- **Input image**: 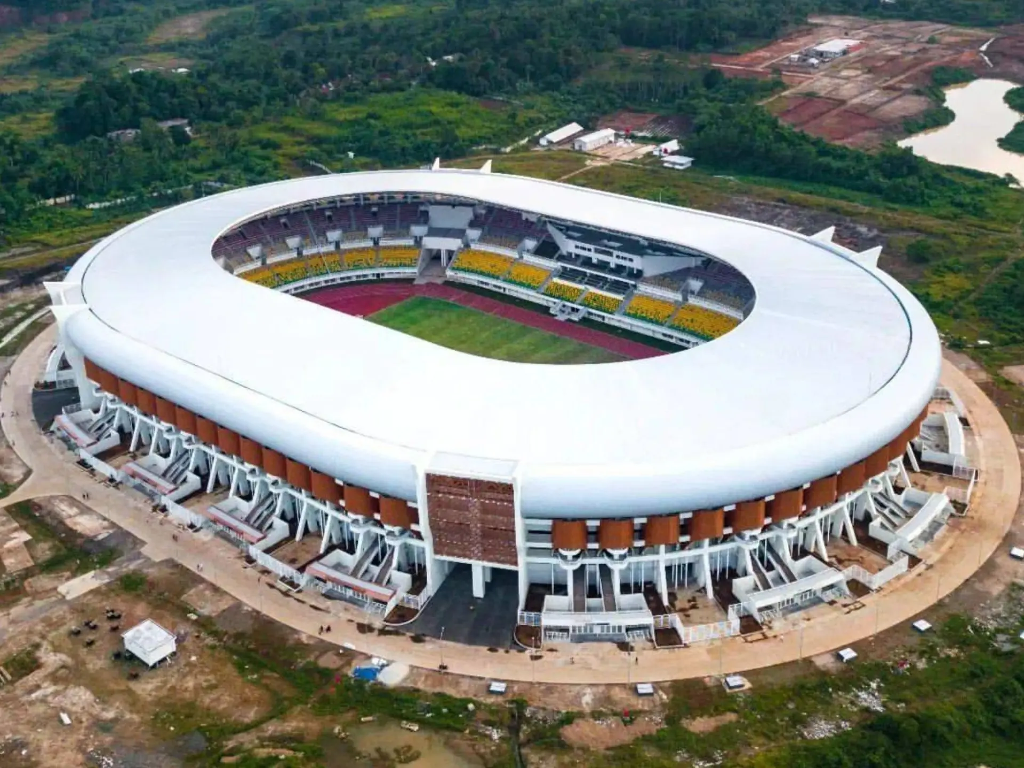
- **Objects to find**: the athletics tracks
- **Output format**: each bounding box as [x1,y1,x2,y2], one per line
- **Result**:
[313,289,666,361]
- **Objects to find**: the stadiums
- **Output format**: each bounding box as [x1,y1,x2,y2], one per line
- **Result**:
[42,156,937,616]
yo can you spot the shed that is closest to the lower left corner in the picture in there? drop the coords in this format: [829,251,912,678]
[122,619,177,671]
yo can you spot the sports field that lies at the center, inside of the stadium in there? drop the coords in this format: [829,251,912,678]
[366,295,638,367]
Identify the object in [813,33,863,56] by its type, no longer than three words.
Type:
building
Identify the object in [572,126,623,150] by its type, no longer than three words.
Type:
building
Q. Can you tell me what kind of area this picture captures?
sports ground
